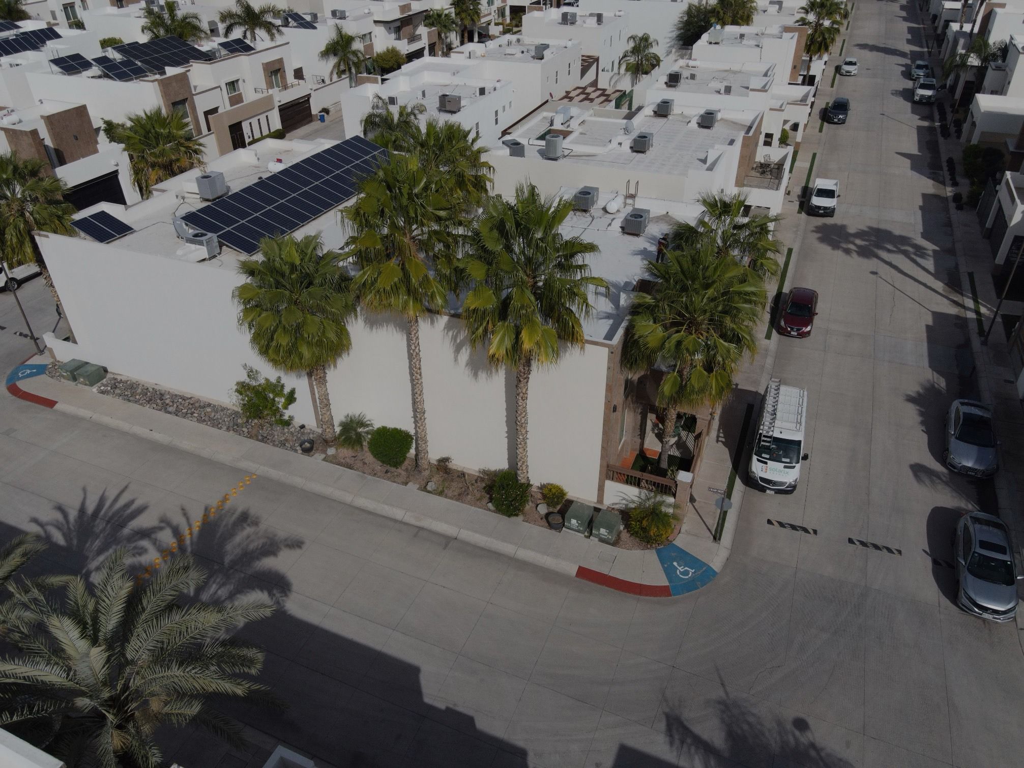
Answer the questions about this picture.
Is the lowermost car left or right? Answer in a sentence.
You can find the lowermost car on the right side of the picture.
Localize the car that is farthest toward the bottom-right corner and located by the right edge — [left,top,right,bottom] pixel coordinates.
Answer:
[957,522,1024,627]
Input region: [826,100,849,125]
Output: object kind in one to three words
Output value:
car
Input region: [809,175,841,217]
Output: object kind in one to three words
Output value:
truck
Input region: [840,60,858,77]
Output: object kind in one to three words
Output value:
car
